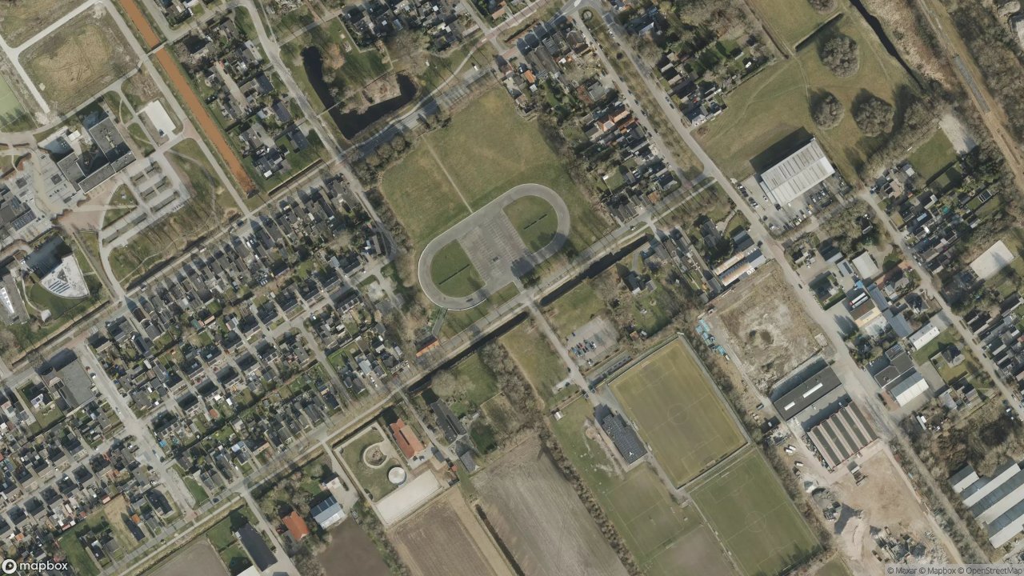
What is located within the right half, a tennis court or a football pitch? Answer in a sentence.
There is a football pitch within the right half.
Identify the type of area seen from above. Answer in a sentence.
The picture captures a residential area.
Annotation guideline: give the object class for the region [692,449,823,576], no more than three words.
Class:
soccer field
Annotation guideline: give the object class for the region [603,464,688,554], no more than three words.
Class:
soccer field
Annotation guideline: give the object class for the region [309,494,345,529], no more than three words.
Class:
building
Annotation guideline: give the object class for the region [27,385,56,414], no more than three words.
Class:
house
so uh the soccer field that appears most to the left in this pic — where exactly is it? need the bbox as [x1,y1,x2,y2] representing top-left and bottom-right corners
[0,75,26,130]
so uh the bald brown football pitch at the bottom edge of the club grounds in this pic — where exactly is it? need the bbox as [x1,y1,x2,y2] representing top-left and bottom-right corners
[650,516,742,576]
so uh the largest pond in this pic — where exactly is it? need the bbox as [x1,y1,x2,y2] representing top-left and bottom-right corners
[303,47,416,139]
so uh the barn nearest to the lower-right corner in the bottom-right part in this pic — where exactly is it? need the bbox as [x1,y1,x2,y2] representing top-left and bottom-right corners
[982,503,1024,547]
